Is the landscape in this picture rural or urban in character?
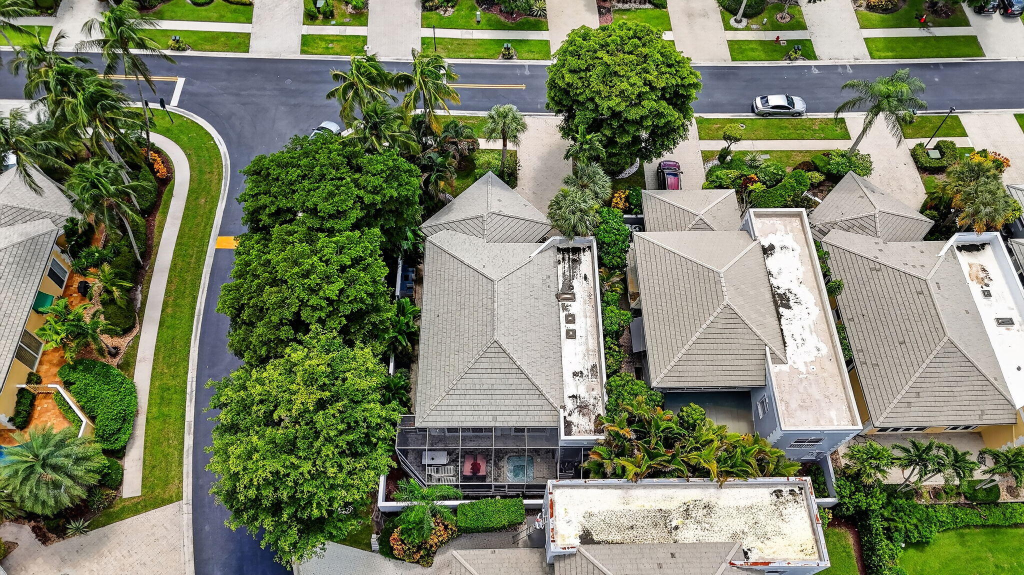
urban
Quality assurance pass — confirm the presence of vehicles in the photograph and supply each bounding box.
[748,90,804,115]
[973,0,1002,12]
[311,122,340,141]
[655,161,683,189]
[1001,0,1024,14]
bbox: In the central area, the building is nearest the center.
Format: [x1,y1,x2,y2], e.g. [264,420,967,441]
[411,170,606,458]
